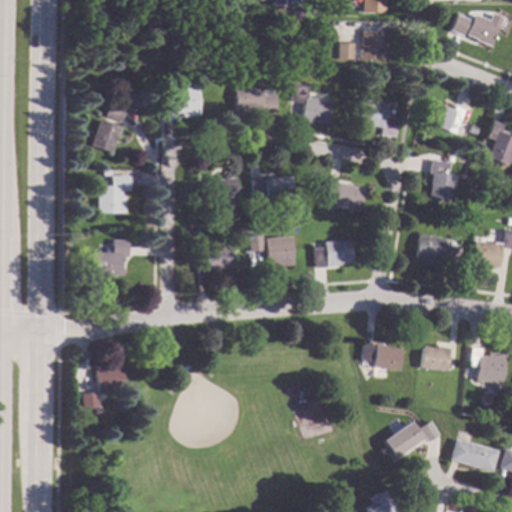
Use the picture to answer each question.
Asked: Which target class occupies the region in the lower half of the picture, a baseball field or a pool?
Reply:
baseball field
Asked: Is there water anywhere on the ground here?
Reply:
No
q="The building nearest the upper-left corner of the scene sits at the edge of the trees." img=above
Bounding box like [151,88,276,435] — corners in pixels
[93,108,128,154]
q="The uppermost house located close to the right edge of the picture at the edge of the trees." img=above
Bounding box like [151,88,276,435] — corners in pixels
[452,12,506,44]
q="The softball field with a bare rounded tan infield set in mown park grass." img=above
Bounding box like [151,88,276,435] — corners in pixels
[134,362,285,508]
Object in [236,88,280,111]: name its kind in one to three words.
house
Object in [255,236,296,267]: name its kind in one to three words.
house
